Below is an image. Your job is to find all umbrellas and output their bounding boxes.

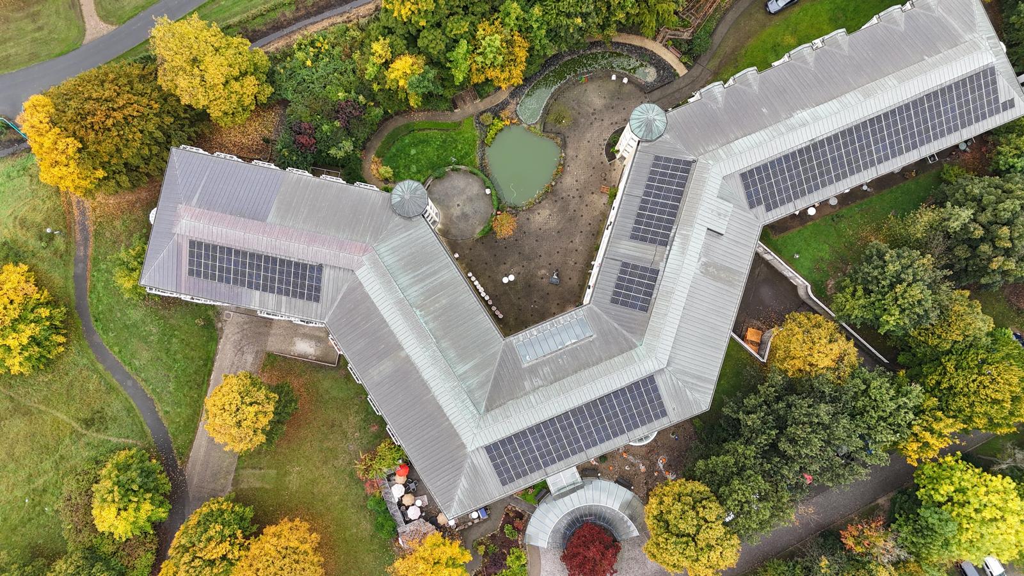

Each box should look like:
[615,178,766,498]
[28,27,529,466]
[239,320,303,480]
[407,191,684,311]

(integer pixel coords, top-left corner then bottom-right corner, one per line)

[395,463,410,476]
[408,505,421,519]
[402,492,416,505]
[392,482,406,497]
[395,474,407,483]
[436,512,448,524]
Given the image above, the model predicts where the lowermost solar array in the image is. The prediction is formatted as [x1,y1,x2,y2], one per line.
[486,375,667,486]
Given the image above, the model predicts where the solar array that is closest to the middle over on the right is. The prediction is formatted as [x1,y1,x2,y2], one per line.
[611,262,659,312]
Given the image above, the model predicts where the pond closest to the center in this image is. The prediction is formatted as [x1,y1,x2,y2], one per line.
[488,124,561,205]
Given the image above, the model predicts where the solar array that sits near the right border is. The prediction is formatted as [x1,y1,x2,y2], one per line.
[740,66,1015,214]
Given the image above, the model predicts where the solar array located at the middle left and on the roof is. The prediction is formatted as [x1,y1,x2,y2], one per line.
[188,240,322,302]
